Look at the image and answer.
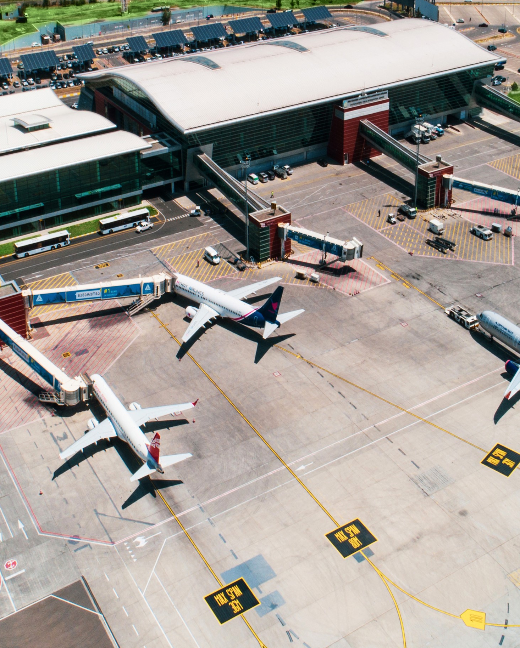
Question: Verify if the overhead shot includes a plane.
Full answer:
Yes, I can see a plane in this picture.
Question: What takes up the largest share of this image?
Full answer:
The scene is dominated by paved ground.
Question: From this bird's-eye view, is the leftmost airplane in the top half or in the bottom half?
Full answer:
The leftmost airplane sits in the bottom half of the picture.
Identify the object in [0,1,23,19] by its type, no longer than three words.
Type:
house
